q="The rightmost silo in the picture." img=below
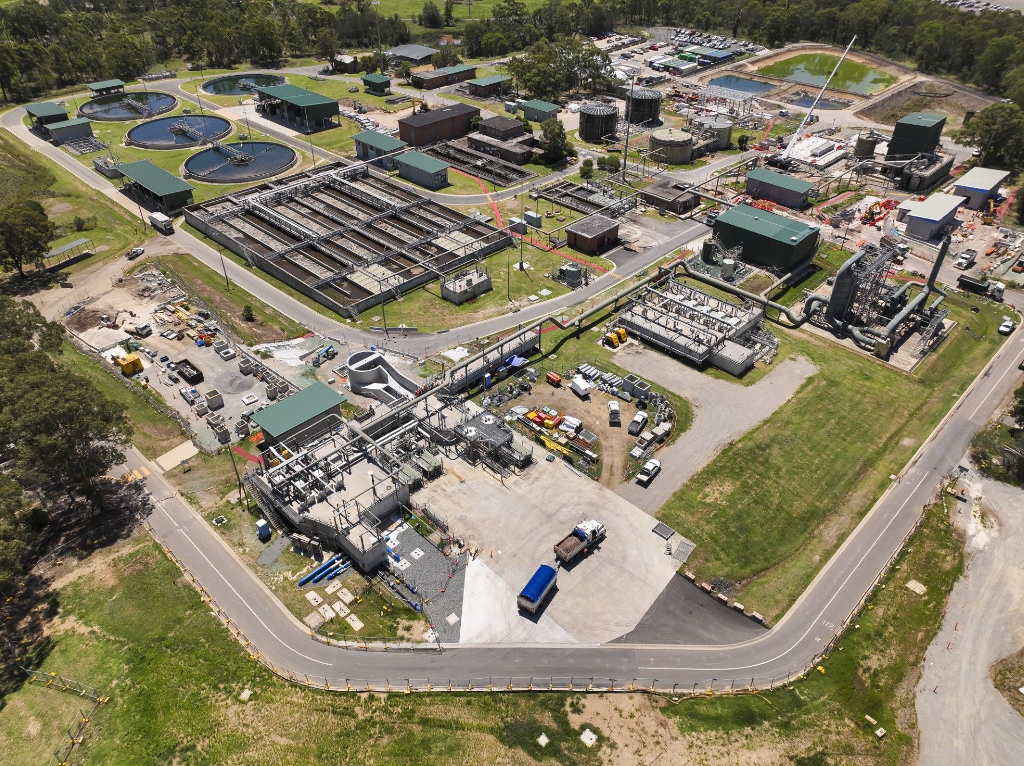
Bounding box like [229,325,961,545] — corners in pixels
[853,128,882,155]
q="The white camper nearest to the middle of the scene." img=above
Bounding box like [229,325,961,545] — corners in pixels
[572,378,593,398]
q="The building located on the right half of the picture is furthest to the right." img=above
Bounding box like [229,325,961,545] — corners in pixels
[950,164,1012,207]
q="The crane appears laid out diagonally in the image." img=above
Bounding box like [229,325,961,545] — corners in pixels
[766,33,859,159]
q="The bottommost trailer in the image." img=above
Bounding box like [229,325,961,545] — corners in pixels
[513,563,561,616]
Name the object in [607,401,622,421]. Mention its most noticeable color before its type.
white vehicle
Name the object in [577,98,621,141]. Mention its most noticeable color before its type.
black storage tank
